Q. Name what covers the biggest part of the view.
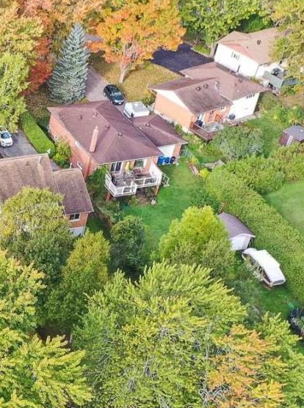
trees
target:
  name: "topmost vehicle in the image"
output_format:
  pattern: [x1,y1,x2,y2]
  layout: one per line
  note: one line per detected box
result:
[106,79,126,101]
